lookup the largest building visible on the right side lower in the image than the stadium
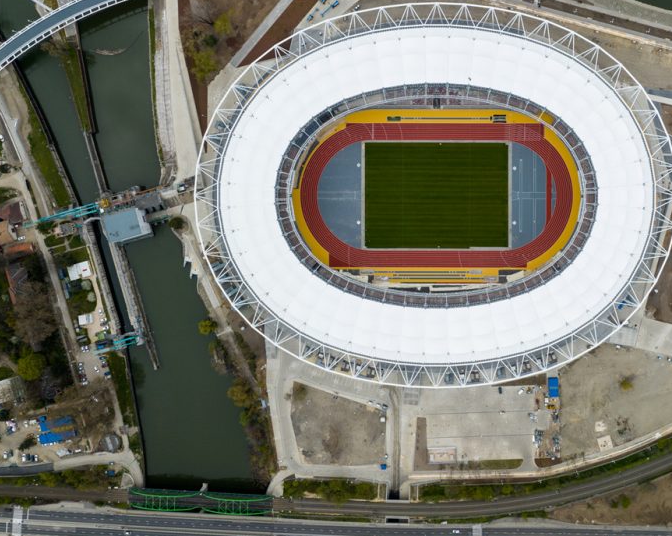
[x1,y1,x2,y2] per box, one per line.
[428,445,457,464]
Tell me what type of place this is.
sports ground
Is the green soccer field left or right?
right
